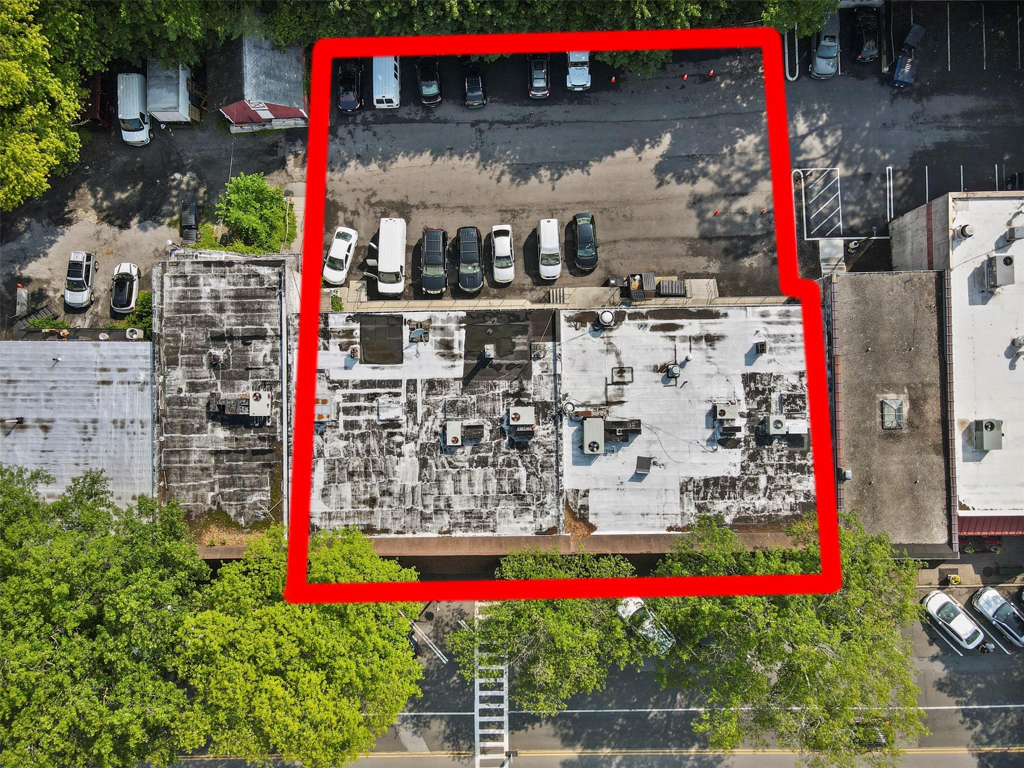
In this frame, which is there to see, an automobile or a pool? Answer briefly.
automobile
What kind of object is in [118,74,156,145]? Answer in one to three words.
van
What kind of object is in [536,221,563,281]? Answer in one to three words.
vehicle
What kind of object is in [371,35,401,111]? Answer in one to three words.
van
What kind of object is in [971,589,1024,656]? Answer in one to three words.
car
